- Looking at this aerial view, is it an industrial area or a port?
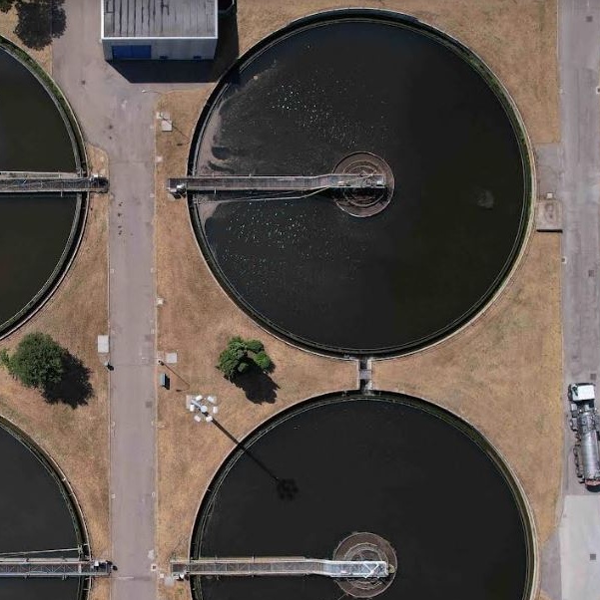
industrial area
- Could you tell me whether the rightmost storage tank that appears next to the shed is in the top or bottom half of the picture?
top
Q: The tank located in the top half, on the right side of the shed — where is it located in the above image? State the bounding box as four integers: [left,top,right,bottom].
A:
[187,9,538,360]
